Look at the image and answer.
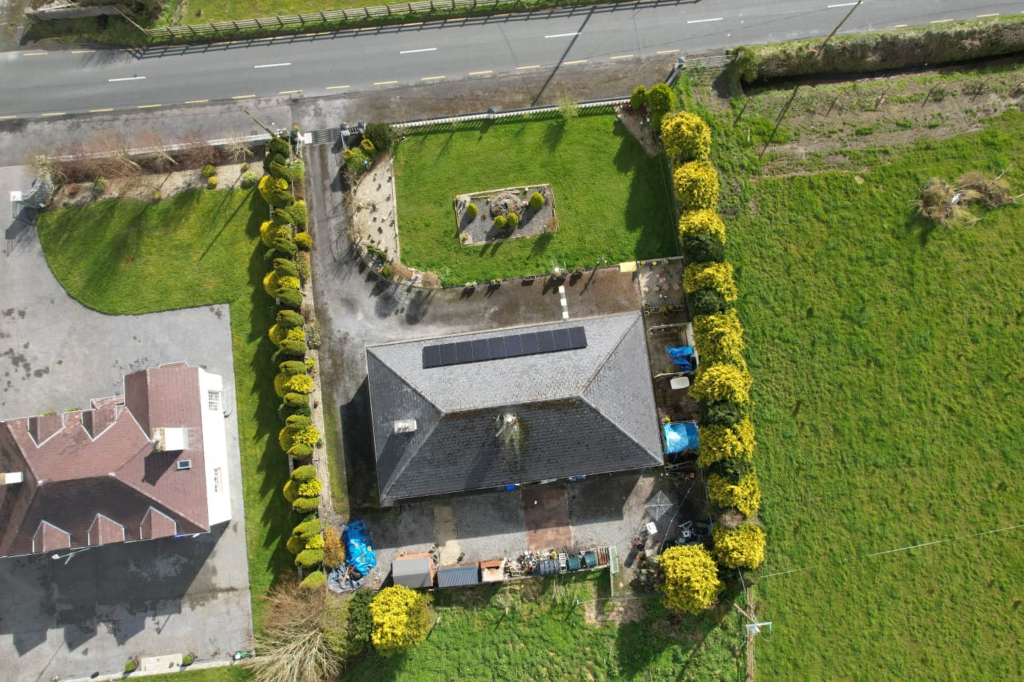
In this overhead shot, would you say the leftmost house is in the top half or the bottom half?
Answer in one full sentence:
The bottom half of the photo is where the leftmost house is.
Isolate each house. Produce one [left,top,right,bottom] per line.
[0,361,233,559]
[366,311,665,505]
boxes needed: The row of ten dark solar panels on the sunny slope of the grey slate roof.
[423,328,587,368]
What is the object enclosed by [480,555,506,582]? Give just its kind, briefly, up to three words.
building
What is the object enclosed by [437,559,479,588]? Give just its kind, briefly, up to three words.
shed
